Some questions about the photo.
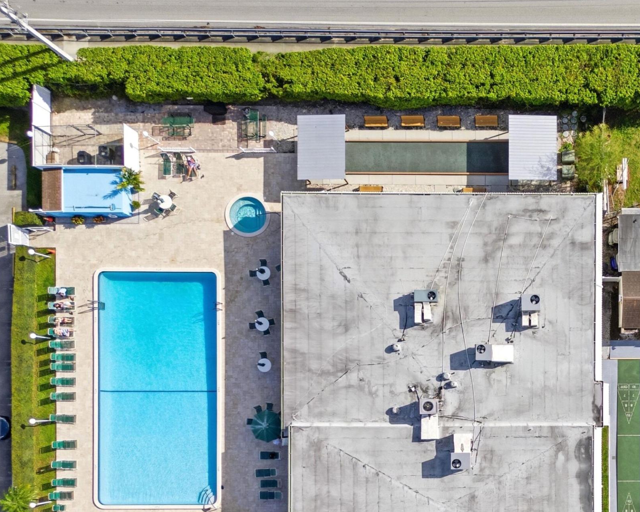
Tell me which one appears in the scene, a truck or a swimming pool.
swimming pool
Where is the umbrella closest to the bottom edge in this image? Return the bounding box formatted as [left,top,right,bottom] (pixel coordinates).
[254,413,283,442]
